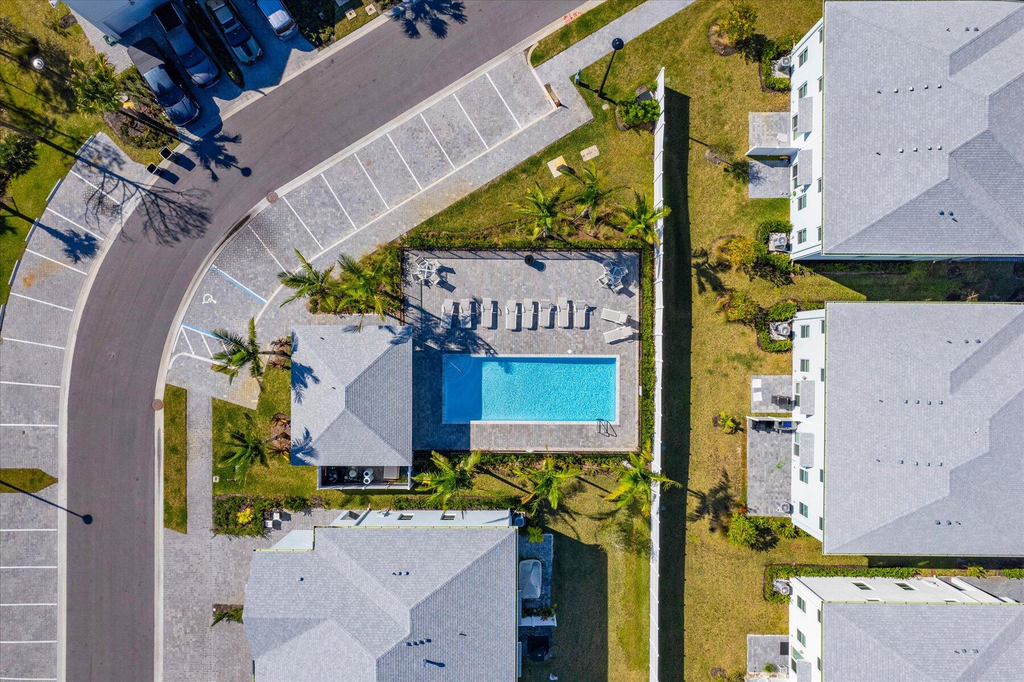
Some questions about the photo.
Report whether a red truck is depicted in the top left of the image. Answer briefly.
No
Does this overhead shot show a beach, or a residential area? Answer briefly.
residential area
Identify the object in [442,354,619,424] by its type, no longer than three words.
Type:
swimming pool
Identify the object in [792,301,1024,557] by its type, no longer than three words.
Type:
house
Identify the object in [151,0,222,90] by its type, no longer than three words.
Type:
truck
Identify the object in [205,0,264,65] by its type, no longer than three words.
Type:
car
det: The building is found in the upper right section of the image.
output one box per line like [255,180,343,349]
[791,0,1024,260]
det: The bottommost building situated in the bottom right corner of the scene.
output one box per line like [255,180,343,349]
[789,575,1024,682]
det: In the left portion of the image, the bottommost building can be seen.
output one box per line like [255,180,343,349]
[240,508,523,682]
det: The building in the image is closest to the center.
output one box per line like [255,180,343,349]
[290,324,413,468]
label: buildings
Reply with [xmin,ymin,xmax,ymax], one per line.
[59,0,184,39]
[792,301,1024,557]
[789,575,1024,682]
[240,508,523,682]
[290,324,413,468]
[791,0,1024,260]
